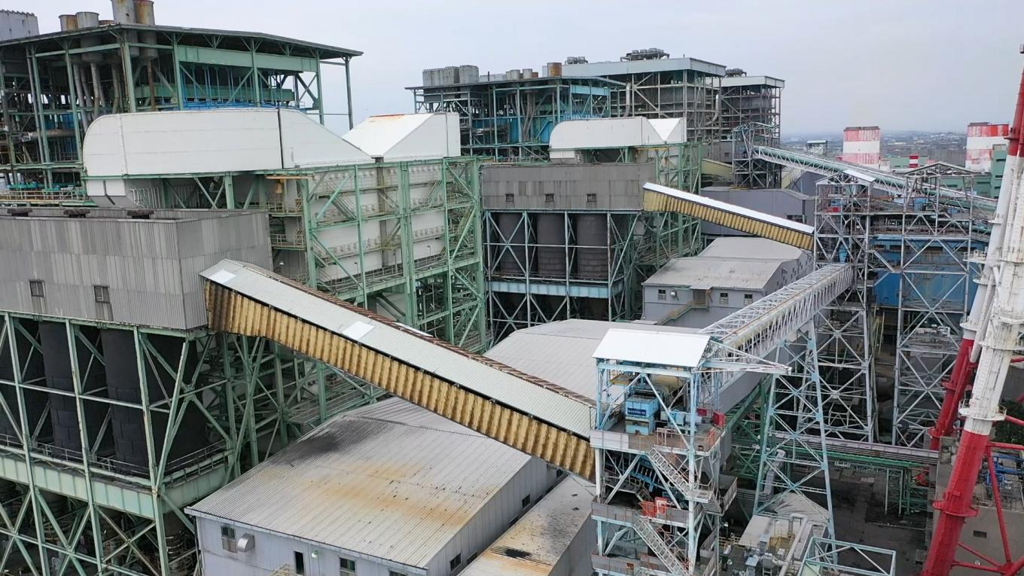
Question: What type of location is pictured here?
industrial area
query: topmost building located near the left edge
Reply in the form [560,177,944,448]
[0,0,375,207]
